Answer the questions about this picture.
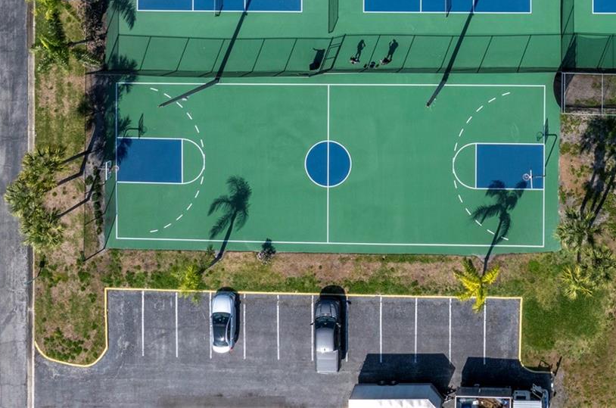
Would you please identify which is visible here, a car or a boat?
car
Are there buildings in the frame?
No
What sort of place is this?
sports ground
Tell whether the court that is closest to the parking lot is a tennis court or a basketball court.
basketball court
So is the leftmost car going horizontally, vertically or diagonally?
vertically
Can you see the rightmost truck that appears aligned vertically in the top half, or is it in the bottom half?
bottom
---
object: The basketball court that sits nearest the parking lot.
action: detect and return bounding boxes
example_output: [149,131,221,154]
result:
[104,69,560,253]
